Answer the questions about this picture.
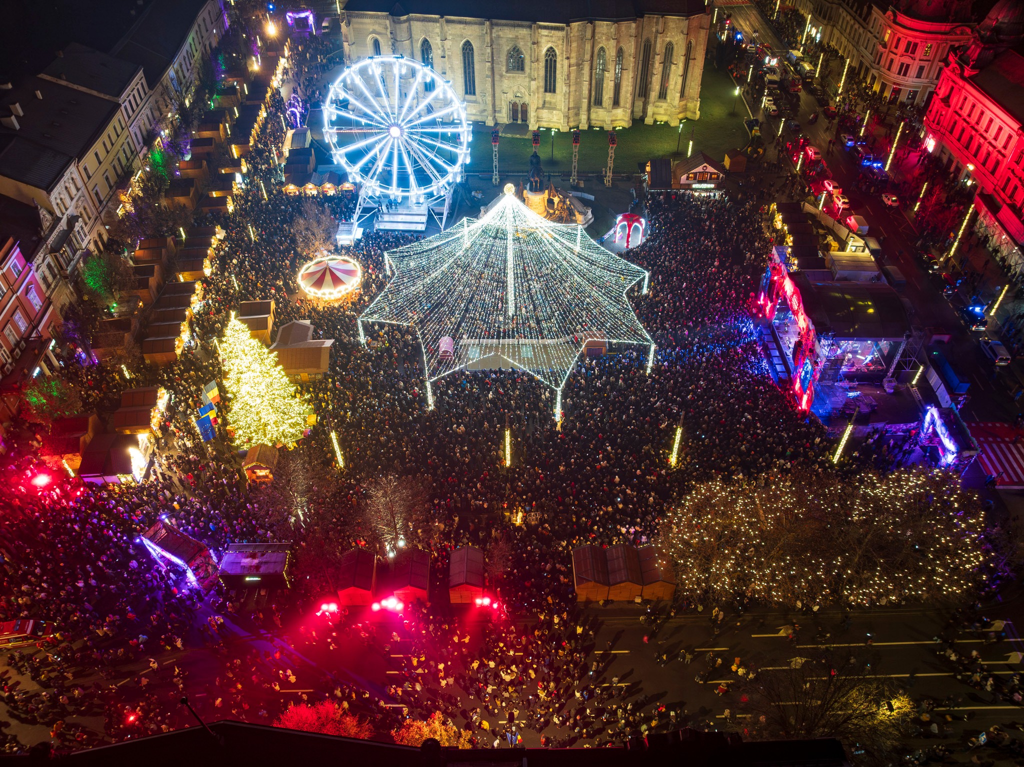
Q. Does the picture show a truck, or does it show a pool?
truck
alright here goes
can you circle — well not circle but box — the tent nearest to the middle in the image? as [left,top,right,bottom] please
[615,219,646,252]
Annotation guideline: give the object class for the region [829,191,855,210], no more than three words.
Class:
car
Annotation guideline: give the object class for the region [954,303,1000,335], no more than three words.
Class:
van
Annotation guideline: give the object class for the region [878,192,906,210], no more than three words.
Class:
car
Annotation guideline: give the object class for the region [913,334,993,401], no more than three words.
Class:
truck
